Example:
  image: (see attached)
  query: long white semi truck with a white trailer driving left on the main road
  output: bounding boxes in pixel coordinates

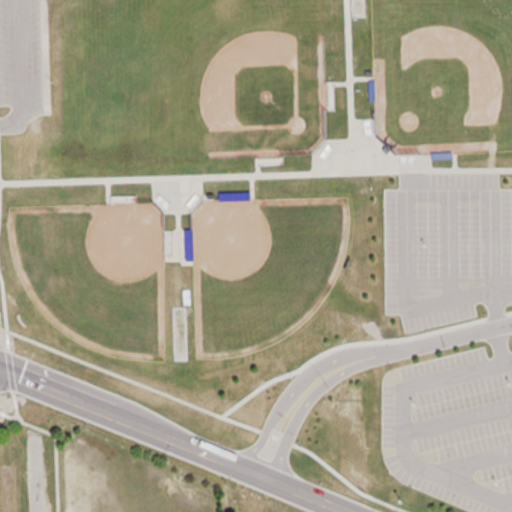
[190,439,236,462]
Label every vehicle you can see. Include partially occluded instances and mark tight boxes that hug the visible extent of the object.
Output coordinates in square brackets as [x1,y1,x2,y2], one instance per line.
[314,488,324,496]
[190,439,236,462]
[26,380,38,389]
